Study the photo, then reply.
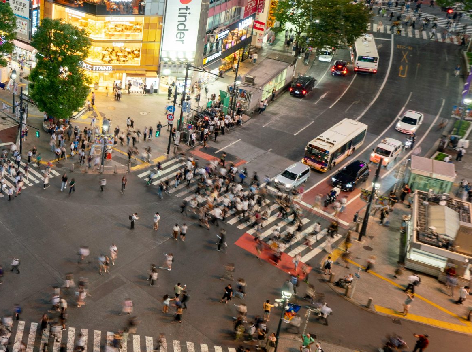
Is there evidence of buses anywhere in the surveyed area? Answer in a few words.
Yes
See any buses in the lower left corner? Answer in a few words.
No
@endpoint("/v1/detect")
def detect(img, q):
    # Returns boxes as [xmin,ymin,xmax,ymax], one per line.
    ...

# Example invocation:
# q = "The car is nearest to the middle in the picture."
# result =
[278,159,316,192]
